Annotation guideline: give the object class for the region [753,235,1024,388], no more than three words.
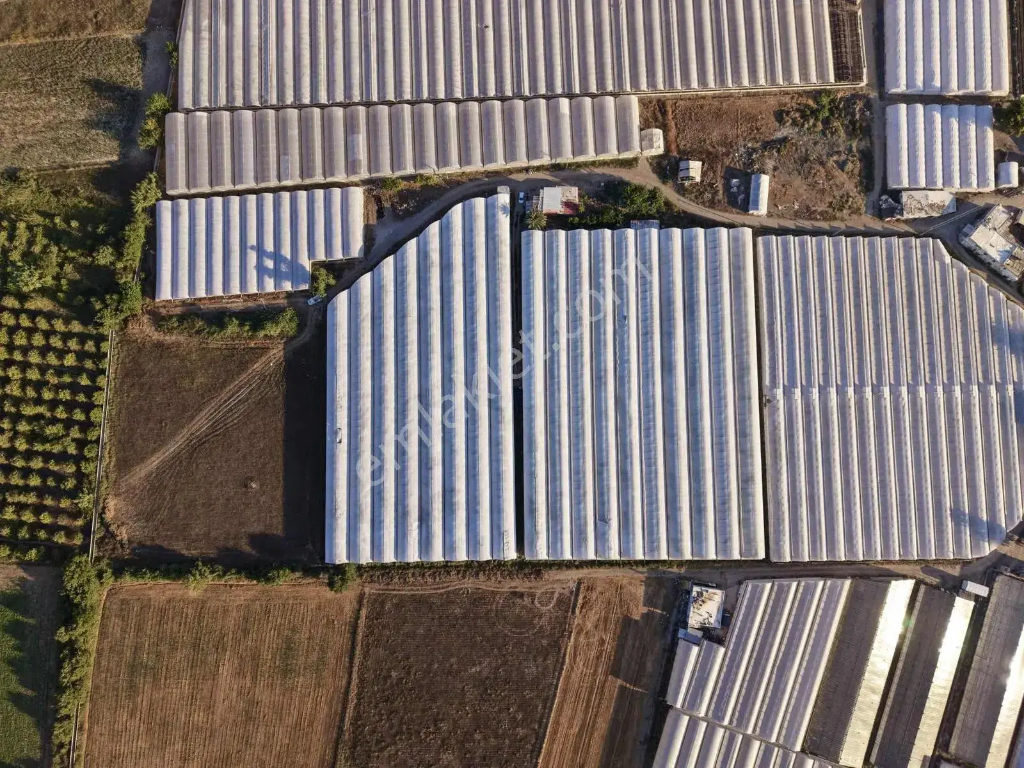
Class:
greenhouse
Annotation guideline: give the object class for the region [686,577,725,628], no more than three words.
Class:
house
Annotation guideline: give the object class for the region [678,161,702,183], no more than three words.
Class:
shed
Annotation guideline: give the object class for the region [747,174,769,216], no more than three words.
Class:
greenhouse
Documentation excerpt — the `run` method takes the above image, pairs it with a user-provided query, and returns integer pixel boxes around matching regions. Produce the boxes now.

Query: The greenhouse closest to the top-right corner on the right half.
[879,0,1009,99]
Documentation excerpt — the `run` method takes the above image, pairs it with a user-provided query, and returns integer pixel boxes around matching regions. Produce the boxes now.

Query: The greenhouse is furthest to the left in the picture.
[155,185,366,302]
